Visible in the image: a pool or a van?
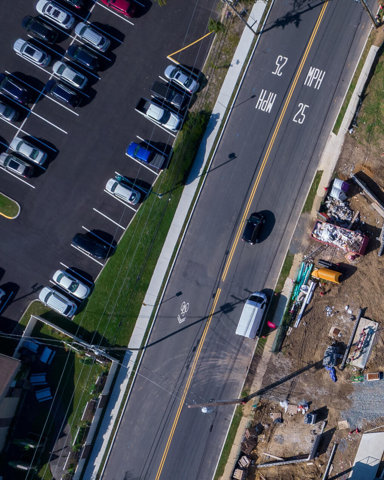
van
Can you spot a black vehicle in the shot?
Yes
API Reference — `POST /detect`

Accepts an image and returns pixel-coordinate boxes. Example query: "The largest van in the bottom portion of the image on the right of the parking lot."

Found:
[231,290,268,341]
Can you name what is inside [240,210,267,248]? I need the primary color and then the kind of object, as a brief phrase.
black car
